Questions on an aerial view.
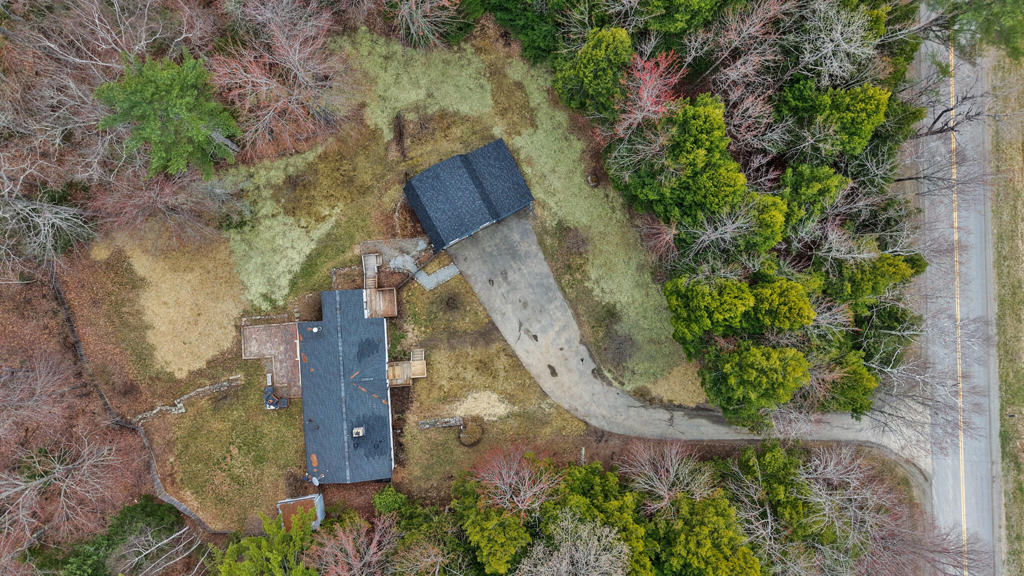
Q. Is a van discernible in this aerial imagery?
No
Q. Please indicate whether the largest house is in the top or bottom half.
bottom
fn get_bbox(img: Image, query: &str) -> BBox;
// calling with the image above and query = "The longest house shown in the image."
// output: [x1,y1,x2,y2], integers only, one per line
[297,290,395,483]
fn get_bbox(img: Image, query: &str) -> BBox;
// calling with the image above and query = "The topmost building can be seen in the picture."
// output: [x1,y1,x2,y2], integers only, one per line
[403,138,534,255]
